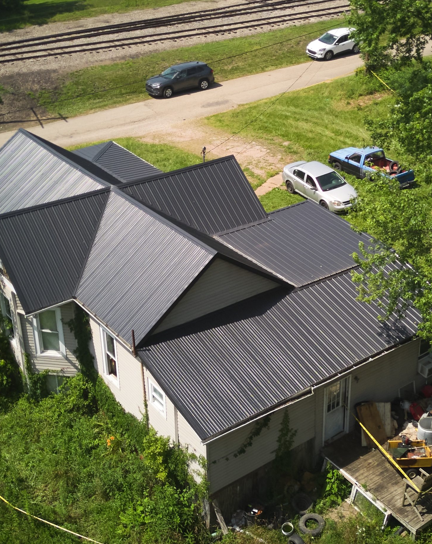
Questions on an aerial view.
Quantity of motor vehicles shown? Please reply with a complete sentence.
There are 4 motor vehicles in the image.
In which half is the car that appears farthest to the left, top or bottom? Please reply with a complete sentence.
The car that appears farthest to the left sits in the top half of the picture.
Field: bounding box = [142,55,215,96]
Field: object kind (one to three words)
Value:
car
